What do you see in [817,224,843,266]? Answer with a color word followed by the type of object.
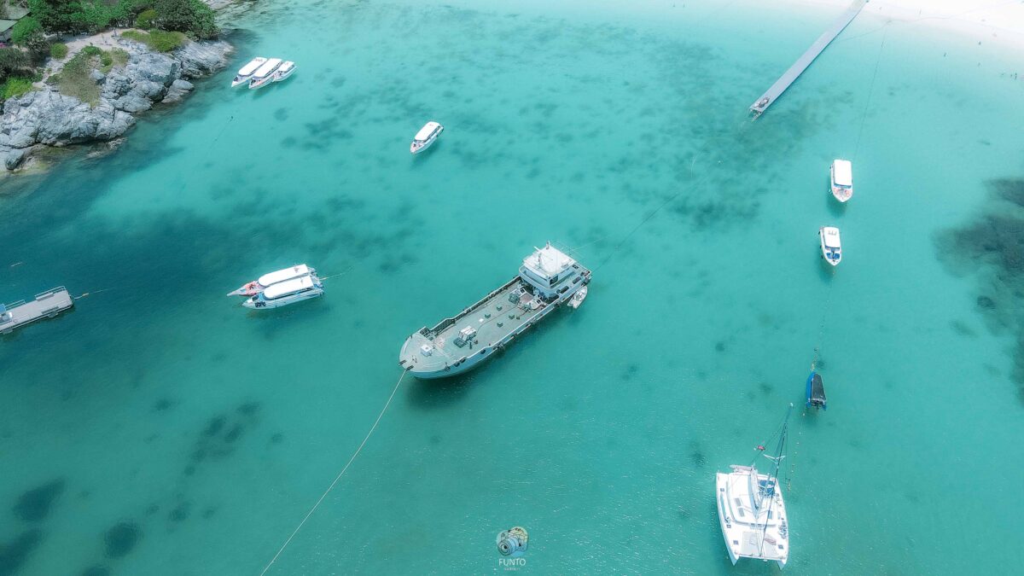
white boat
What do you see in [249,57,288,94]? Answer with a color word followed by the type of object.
white boat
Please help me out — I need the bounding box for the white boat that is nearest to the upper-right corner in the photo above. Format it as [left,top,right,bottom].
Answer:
[830,161,855,204]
